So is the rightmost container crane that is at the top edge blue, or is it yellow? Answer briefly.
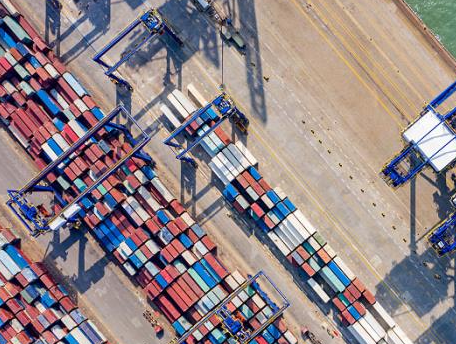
blue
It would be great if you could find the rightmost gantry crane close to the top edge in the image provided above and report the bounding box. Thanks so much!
[92,9,183,92]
